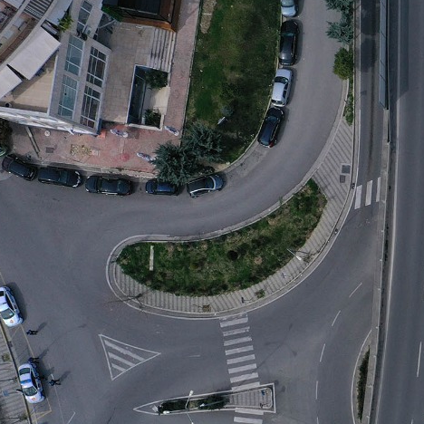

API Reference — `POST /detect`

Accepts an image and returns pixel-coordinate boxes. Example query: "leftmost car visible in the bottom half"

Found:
[0,285,24,329]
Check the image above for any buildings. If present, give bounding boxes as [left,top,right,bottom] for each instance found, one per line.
[116,0,184,31]
[0,0,111,134]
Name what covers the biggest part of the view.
paved ground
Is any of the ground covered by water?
No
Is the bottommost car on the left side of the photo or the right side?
left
